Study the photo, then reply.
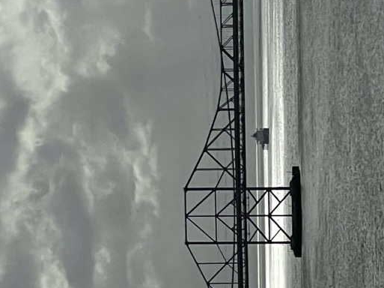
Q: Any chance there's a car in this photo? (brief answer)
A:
No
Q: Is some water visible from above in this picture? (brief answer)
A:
Yes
